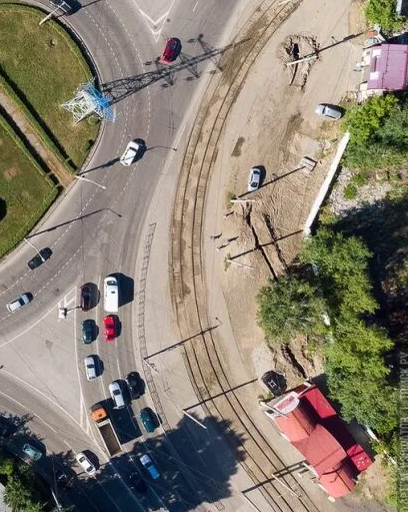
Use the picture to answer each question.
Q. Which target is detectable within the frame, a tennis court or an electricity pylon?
electricity pylon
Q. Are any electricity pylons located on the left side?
Yes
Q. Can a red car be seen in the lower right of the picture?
No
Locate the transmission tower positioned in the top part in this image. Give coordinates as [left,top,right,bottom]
[62,82,115,127]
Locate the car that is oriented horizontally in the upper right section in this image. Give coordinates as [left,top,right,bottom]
[314,105,342,118]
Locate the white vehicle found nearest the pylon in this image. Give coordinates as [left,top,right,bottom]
[121,141,139,164]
